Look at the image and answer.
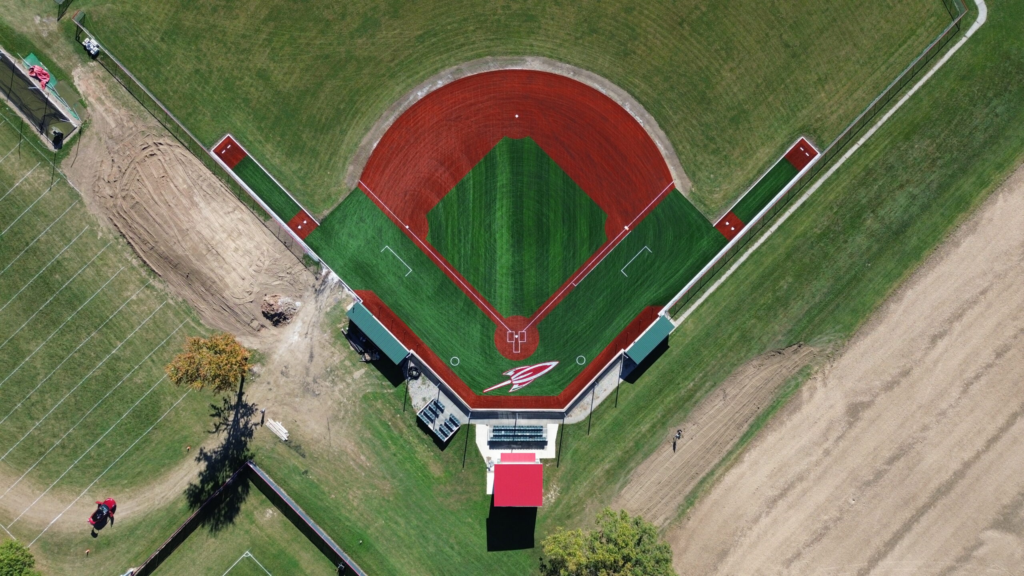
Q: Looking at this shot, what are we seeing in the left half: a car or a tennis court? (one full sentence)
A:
There is a car in the left half.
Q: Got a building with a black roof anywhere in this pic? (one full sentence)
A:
No, there appears to be no building with a black roof in this shot.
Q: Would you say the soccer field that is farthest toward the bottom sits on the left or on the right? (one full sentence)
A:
The soccer field that is farthest toward the bottom is on the left side of the image.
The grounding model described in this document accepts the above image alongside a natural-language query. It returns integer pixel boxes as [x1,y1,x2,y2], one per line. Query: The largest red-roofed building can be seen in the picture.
[494,450,543,507]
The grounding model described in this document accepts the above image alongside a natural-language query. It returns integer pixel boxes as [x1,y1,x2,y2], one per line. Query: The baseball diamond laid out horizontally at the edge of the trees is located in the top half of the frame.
[78,0,962,409]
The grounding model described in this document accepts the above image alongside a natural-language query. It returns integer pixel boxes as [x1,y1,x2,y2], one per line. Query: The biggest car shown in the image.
[89,498,115,525]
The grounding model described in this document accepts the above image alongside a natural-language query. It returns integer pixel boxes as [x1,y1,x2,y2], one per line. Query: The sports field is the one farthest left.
[0,112,231,549]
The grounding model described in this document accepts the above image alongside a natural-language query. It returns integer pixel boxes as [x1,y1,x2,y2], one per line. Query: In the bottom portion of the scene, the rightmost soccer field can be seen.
[135,465,358,576]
